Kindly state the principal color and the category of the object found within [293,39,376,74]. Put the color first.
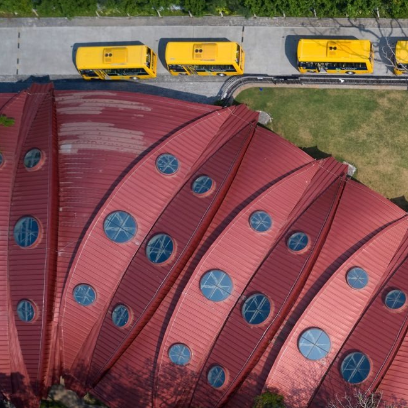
yellow bus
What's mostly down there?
buildings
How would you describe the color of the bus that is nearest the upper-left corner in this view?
yellow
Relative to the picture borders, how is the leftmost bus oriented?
horizontally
